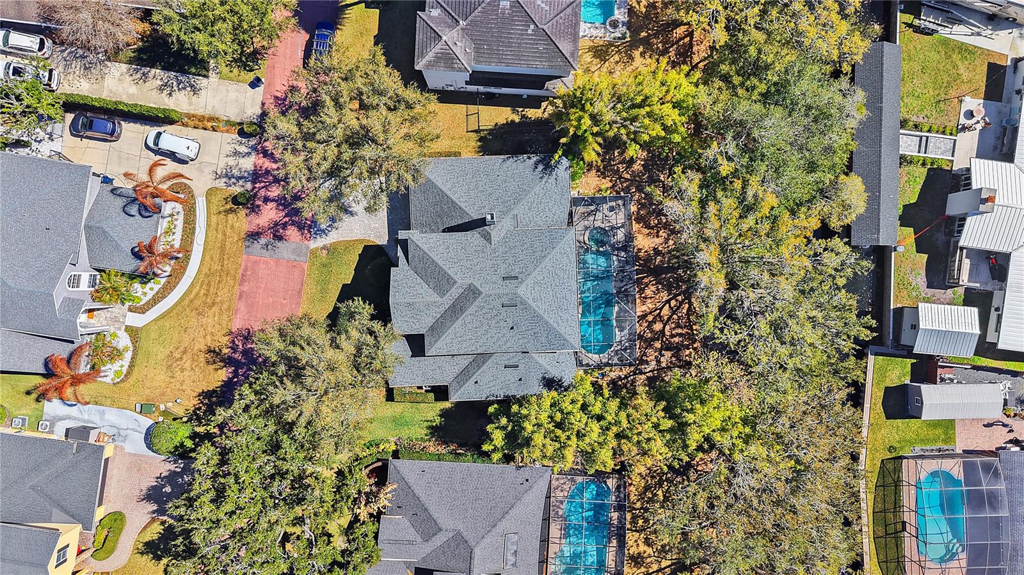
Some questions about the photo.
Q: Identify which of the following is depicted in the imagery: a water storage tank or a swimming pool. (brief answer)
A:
swimming pool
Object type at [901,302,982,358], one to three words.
shed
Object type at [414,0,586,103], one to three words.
house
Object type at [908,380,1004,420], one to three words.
shed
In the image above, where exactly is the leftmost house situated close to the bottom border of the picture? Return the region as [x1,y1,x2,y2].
[0,431,116,575]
